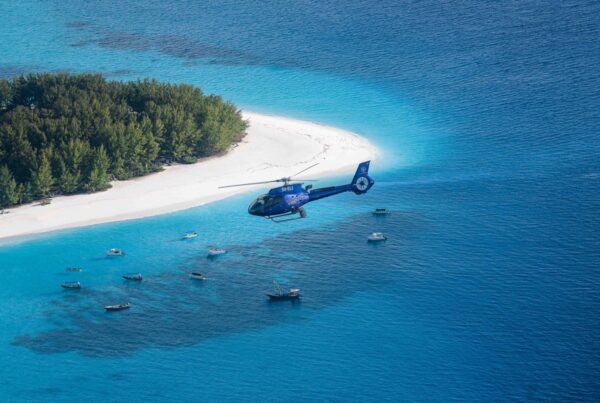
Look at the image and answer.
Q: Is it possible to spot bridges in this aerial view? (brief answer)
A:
No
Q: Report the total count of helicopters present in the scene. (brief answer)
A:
one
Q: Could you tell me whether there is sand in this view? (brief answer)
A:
Yes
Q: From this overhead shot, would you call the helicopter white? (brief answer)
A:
No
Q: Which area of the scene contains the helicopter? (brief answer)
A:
center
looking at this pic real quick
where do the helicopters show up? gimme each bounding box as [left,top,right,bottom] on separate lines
[219,160,374,223]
